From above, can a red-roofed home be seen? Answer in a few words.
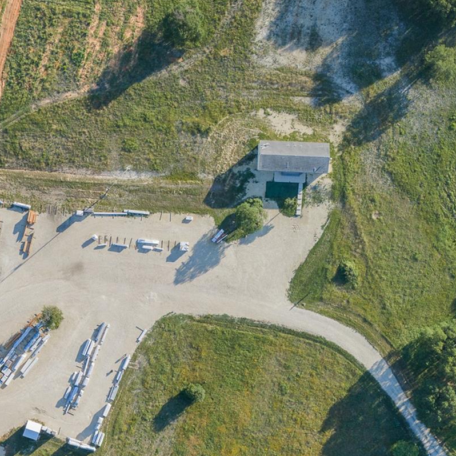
No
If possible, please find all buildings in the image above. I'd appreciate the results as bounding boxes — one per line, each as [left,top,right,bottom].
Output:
[255,141,333,183]
[23,421,42,440]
